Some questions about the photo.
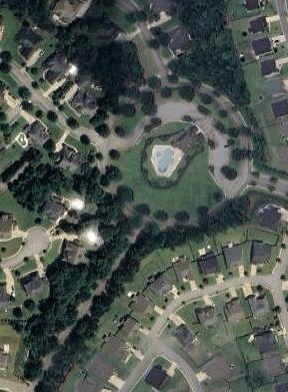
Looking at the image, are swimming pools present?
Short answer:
Yes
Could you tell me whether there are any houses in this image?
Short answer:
Yes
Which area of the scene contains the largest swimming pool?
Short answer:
center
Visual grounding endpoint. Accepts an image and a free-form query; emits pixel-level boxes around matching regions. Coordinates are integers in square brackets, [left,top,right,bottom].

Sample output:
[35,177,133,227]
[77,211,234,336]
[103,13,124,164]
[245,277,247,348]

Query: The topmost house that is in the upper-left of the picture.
[51,0,79,21]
